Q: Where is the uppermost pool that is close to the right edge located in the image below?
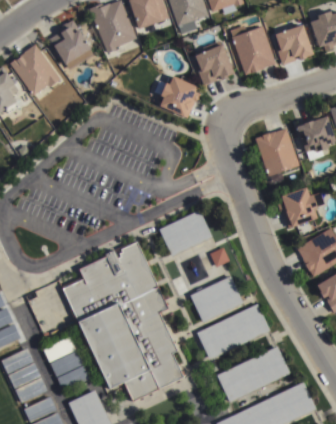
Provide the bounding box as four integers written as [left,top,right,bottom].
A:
[311,158,332,173]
